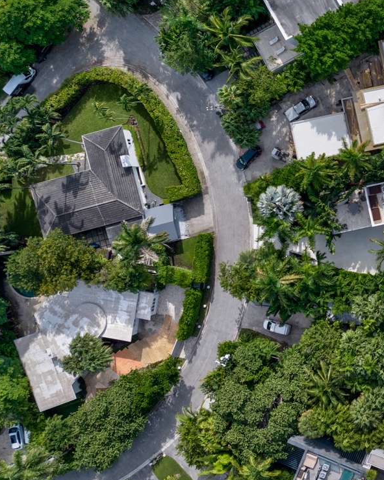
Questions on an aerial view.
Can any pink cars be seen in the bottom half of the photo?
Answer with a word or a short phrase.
No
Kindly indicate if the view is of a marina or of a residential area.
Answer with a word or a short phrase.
residential area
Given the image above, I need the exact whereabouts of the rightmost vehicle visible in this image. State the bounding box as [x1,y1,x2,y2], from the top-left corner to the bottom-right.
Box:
[283,94,320,122]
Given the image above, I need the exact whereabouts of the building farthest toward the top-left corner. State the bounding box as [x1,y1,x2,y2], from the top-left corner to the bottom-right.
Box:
[29,125,152,249]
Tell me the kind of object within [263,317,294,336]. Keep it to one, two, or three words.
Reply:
car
